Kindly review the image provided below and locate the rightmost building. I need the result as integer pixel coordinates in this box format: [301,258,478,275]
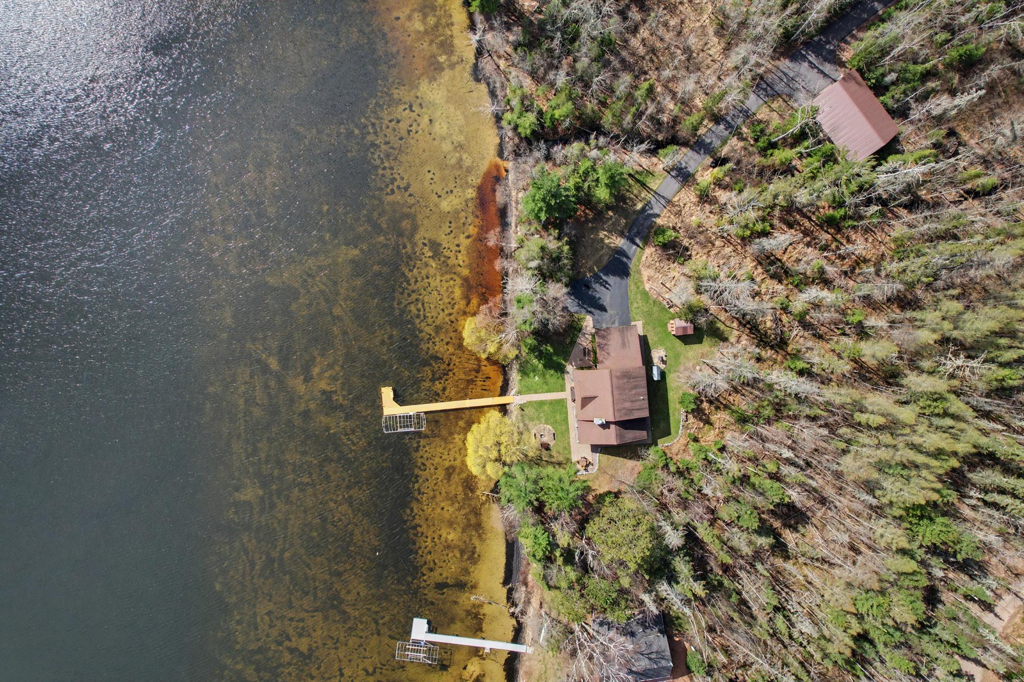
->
[809,71,899,163]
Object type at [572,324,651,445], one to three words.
house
